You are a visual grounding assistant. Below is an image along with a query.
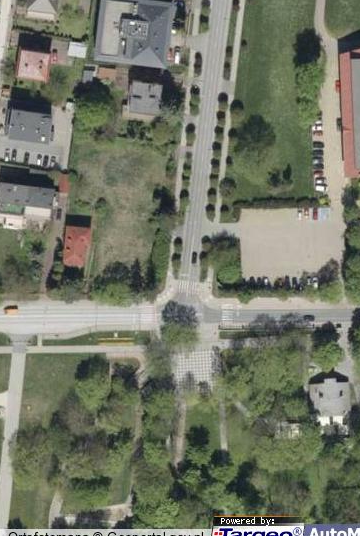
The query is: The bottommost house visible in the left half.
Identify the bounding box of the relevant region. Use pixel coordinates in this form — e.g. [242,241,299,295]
[63,226,91,266]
